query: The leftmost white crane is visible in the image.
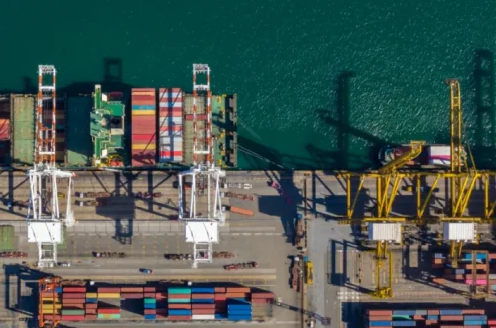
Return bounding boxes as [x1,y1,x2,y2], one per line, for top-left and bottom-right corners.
[23,64,85,269]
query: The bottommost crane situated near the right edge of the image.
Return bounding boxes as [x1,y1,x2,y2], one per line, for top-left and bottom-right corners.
[453,250,490,301]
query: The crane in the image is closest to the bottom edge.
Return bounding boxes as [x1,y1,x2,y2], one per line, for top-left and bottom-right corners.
[36,277,64,327]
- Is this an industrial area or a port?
port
